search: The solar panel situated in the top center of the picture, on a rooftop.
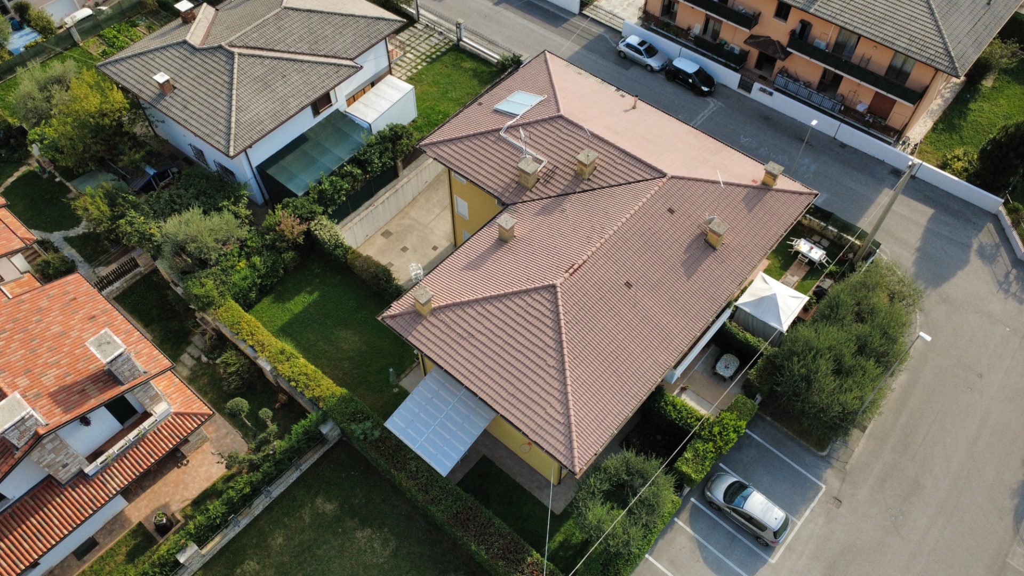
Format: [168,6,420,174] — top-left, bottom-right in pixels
[495,89,548,171]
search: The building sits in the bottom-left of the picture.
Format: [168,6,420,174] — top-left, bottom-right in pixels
[0,266,218,576]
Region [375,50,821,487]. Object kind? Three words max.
house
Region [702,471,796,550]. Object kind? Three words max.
car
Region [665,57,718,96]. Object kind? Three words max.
car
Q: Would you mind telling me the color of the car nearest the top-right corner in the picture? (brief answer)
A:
black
